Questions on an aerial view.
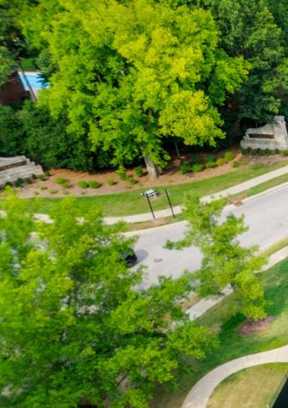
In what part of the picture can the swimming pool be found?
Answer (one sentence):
The swimming pool is in the top left part of the image.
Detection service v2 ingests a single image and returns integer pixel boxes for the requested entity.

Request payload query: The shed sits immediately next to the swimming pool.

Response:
[0,68,25,106]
